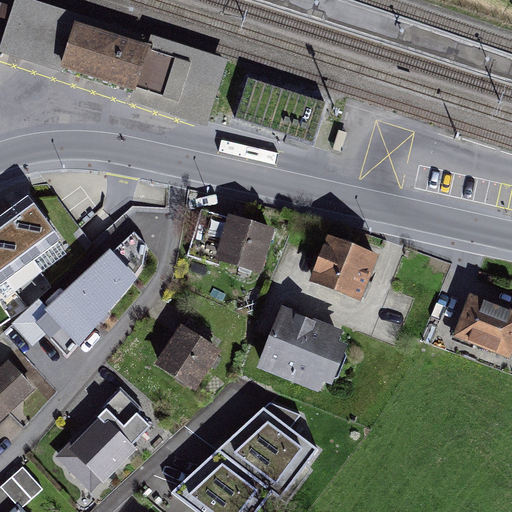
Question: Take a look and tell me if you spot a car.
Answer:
Yes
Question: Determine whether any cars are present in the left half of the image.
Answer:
Yes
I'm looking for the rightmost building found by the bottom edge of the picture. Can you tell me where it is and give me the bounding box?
[171,408,317,512]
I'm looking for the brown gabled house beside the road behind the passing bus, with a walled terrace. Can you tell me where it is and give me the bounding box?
[216,213,275,272]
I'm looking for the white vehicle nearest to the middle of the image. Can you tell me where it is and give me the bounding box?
[192,194,219,208]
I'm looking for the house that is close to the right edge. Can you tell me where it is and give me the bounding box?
[452,292,512,360]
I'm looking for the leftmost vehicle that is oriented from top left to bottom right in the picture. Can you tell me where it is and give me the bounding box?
[10,331,30,354]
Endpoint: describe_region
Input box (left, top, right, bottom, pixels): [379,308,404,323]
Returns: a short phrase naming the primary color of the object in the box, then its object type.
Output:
black car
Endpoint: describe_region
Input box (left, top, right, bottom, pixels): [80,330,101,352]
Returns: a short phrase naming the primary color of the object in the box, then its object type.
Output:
white car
